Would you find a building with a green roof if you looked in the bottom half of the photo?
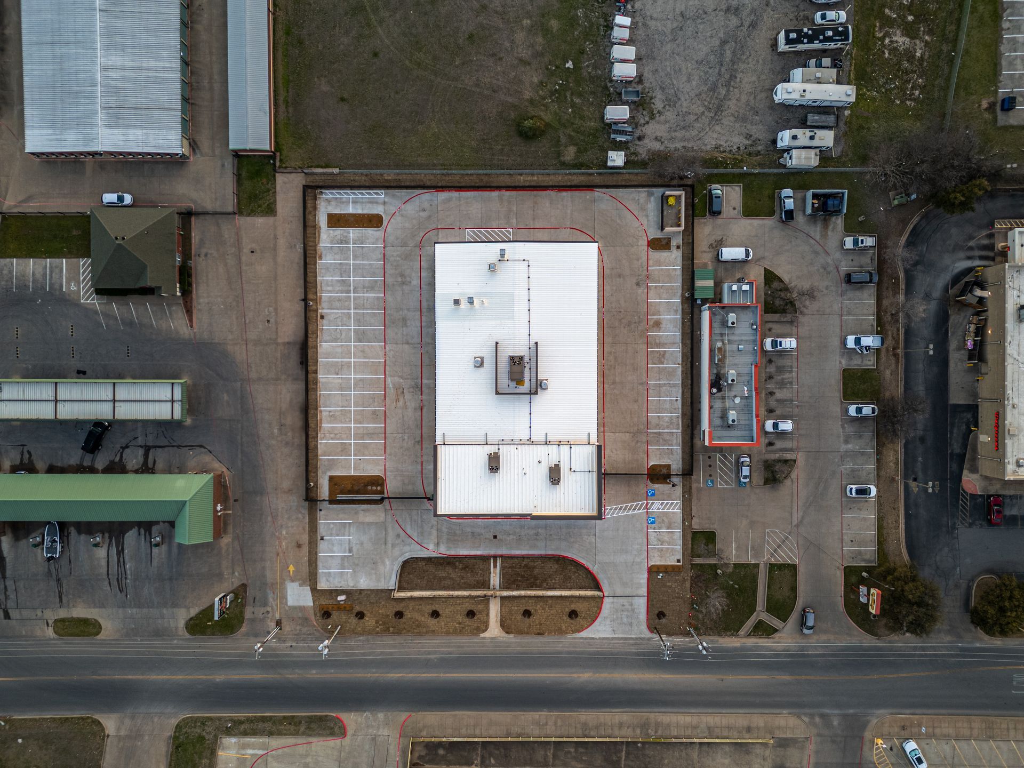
Yes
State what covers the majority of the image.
paved ground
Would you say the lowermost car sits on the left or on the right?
right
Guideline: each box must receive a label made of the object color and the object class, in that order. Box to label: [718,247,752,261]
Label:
white vehicle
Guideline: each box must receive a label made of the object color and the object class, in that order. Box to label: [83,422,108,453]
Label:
black truck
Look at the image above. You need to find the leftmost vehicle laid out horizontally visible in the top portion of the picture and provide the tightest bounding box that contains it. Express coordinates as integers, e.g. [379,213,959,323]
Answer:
[102,192,134,206]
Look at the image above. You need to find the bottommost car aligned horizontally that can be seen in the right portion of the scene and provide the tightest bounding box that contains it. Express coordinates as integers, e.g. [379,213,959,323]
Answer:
[845,484,876,498]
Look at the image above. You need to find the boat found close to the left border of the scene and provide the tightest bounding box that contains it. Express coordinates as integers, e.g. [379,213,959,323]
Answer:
[46,522,60,562]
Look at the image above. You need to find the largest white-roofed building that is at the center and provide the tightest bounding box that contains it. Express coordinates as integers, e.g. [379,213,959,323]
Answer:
[434,241,602,520]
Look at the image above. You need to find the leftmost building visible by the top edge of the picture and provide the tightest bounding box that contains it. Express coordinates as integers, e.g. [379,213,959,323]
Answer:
[25,0,190,161]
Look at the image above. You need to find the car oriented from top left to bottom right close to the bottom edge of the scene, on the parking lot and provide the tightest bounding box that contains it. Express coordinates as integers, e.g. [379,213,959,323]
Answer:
[903,738,927,768]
